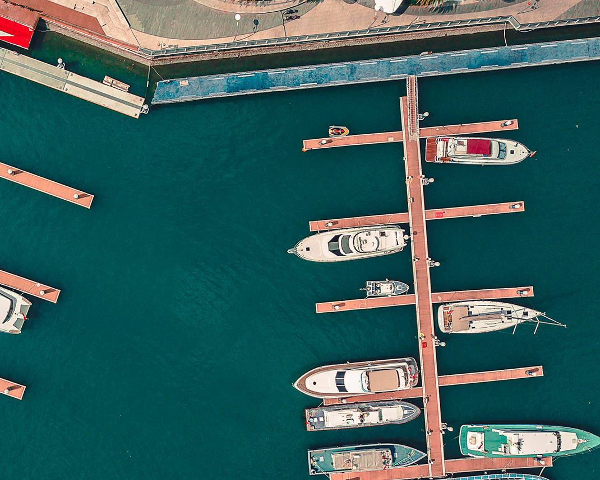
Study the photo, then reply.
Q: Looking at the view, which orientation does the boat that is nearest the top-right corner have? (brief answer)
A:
from left to right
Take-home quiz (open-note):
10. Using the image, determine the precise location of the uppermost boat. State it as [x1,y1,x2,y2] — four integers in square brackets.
[328,124,350,138]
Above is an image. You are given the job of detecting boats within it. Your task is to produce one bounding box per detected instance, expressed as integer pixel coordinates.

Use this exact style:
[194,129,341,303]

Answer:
[437,300,565,333]
[359,278,410,296]
[287,225,409,263]
[328,124,350,138]
[305,401,420,431]
[456,423,600,458]
[0,286,32,333]
[425,135,536,166]
[293,356,419,398]
[307,442,427,475]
